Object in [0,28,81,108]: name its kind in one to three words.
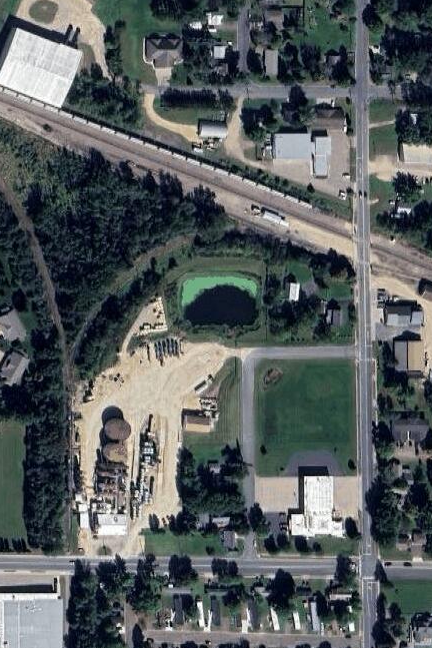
building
